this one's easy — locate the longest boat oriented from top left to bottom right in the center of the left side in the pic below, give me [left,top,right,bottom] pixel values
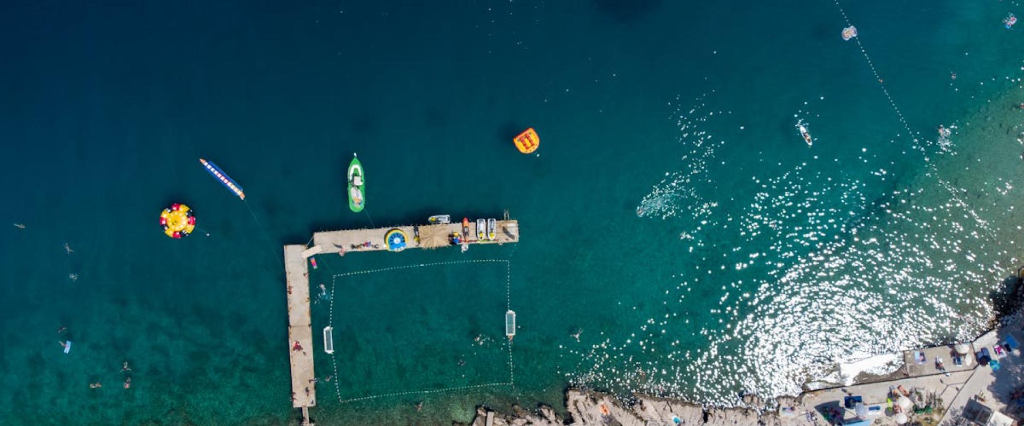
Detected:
[198,159,245,200]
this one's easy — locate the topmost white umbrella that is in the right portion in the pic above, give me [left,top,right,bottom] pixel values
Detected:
[954,342,970,356]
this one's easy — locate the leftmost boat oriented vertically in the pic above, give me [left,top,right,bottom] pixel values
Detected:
[346,151,365,212]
